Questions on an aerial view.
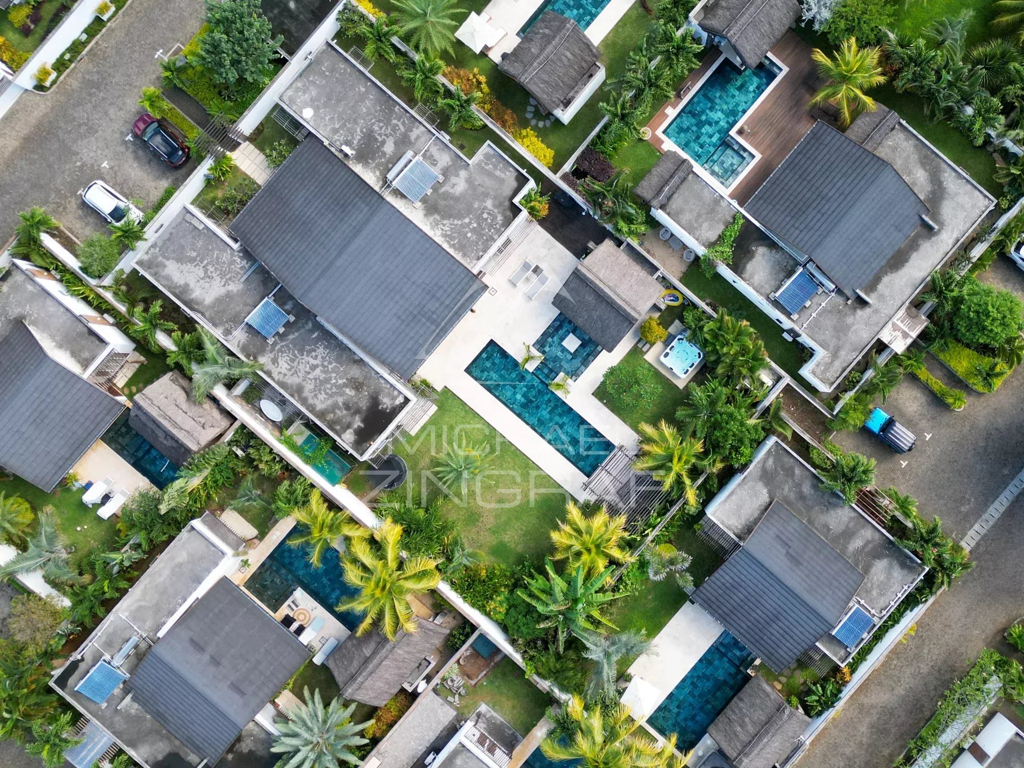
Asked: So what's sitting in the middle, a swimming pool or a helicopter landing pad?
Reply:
swimming pool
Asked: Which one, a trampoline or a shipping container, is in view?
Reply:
trampoline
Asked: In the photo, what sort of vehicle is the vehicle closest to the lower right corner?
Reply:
automobile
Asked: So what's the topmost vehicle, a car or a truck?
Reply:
car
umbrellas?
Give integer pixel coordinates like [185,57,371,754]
[620,666,661,720]
[454,11,491,58]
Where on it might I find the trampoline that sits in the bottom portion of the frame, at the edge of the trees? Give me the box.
[372,453,412,491]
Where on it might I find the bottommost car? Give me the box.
[857,401,928,460]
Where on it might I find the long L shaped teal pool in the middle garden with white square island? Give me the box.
[464,313,615,478]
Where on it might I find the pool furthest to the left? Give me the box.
[102,409,182,487]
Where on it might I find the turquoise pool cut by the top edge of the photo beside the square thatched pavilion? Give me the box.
[518,0,612,36]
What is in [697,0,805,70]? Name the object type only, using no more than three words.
building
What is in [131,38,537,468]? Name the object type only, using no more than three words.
house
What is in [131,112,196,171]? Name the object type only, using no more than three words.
car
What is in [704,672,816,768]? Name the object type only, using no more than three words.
building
